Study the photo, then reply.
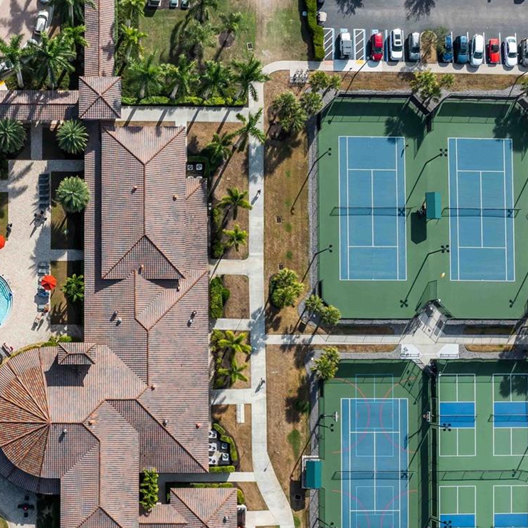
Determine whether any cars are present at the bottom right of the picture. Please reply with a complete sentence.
No, the scene shows no car at the bottom right of the picture.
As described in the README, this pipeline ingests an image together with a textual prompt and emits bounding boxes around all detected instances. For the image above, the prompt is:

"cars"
[486,40,501,66]
[502,38,519,68]
[440,34,456,64]
[407,32,422,62]
[518,39,528,69]
[455,36,469,64]
[468,34,485,68]
[388,30,404,60]
[0,60,16,78]
[33,9,49,39]
[369,32,385,62]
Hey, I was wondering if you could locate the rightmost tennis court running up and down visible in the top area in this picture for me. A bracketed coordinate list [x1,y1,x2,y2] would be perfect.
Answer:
[427,97,528,319]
